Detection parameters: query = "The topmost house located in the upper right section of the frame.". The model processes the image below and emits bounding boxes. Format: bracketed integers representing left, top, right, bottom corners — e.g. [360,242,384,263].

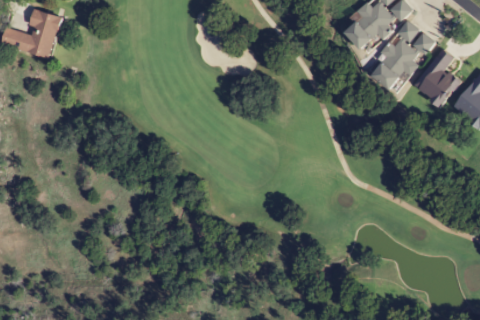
[343,0,412,50]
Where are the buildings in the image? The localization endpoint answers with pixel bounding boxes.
[2,8,62,56]
[416,50,462,100]
[343,0,412,50]
[370,21,436,92]
[454,77,480,126]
